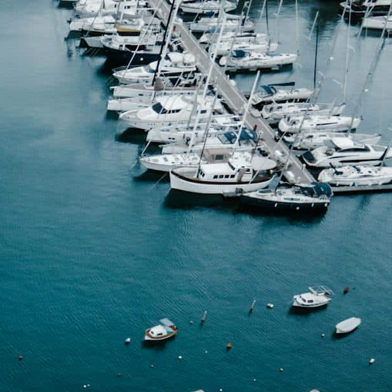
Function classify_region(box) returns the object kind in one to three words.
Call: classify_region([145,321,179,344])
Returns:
boat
